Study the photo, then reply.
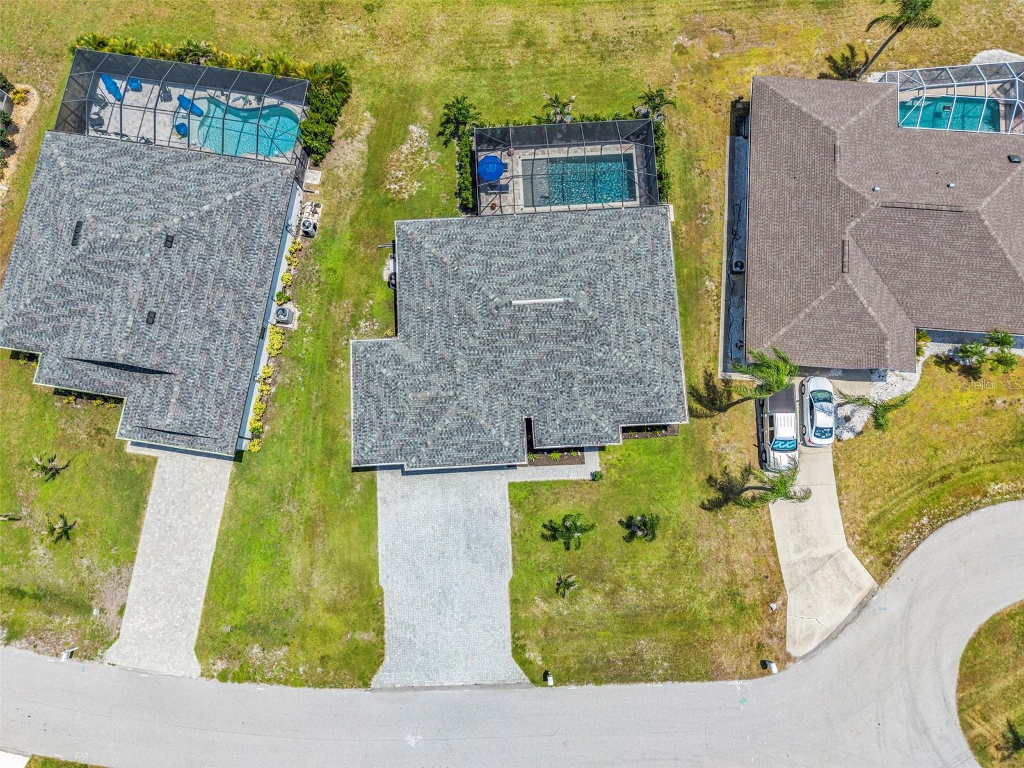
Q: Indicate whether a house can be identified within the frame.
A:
Yes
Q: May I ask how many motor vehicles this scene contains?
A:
2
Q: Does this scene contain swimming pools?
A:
Yes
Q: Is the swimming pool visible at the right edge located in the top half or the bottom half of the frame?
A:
top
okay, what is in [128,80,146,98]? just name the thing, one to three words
umbrella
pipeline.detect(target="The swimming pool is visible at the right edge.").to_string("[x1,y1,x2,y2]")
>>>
[899,93,1003,133]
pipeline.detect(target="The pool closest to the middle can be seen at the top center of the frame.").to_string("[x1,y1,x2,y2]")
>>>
[517,148,642,211]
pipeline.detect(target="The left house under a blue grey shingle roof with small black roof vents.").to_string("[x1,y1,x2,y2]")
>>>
[0,131,308,457]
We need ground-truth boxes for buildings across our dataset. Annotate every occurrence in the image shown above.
[0,131,308,457]
[741,75,1024,375]
[349,204,693,472]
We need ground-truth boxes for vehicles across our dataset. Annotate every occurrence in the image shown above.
[799,378,835,451]
[758,381,800,475]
